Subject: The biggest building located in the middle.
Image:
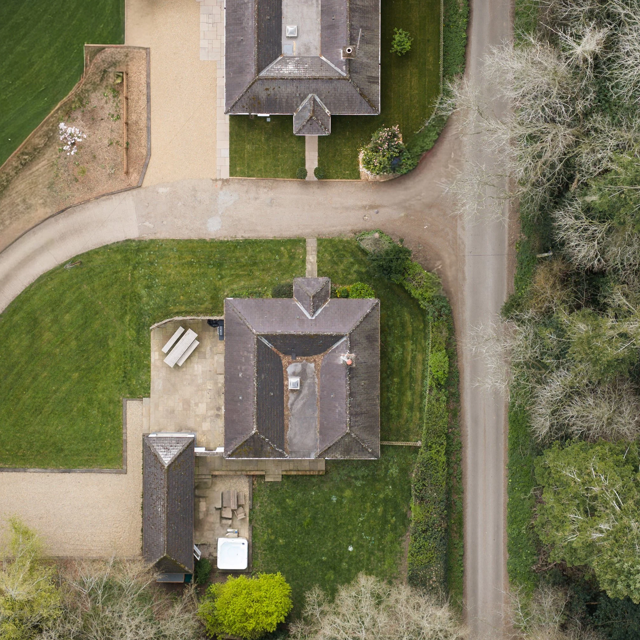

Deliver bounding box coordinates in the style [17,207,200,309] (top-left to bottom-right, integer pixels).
[223,276,381,460]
